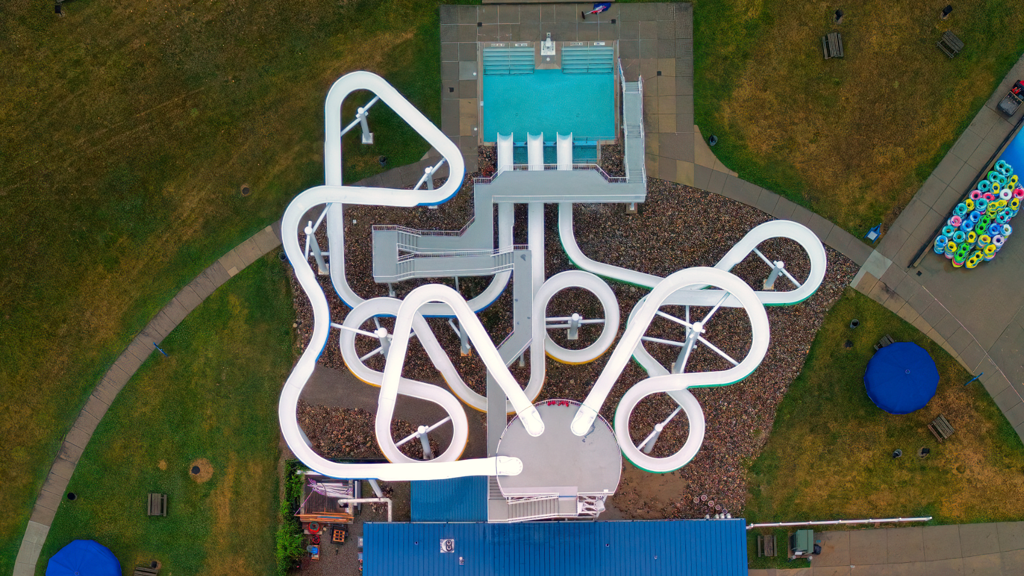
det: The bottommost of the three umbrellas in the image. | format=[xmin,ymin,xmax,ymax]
[47,541,121,576]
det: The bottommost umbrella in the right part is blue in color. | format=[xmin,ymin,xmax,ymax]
[865,344,938,416]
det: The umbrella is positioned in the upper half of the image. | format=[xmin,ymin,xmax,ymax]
[581,1,610,18]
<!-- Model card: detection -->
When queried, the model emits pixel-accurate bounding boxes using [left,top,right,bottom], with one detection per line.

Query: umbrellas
[47,541,121,576]
[581,1,610,18]
[865,344,938,416]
